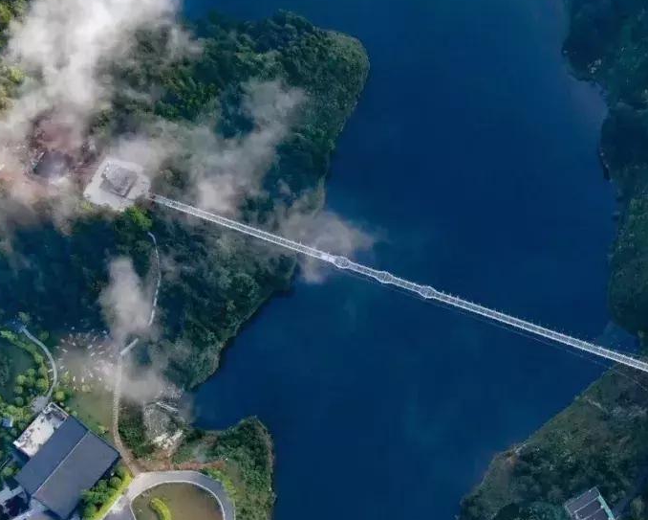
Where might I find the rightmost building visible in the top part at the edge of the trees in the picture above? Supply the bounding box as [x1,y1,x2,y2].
[99,165,138,198]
